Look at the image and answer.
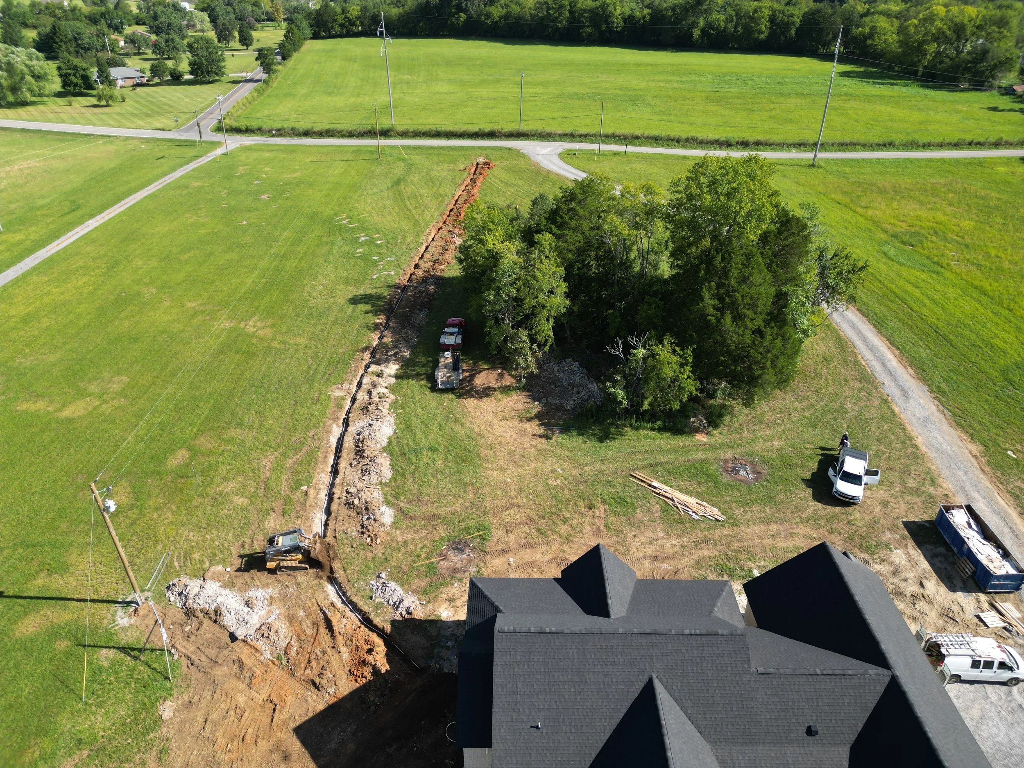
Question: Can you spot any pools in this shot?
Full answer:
No, there's no pool here.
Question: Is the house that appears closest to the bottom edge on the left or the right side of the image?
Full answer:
It is on the right.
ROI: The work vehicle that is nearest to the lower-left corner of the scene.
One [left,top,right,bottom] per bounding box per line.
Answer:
[263,529,333,573]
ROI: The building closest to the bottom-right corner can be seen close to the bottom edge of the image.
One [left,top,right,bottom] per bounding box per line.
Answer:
[458,540,990,768]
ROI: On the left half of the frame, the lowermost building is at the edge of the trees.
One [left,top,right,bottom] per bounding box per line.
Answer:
[85,64,149,88]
